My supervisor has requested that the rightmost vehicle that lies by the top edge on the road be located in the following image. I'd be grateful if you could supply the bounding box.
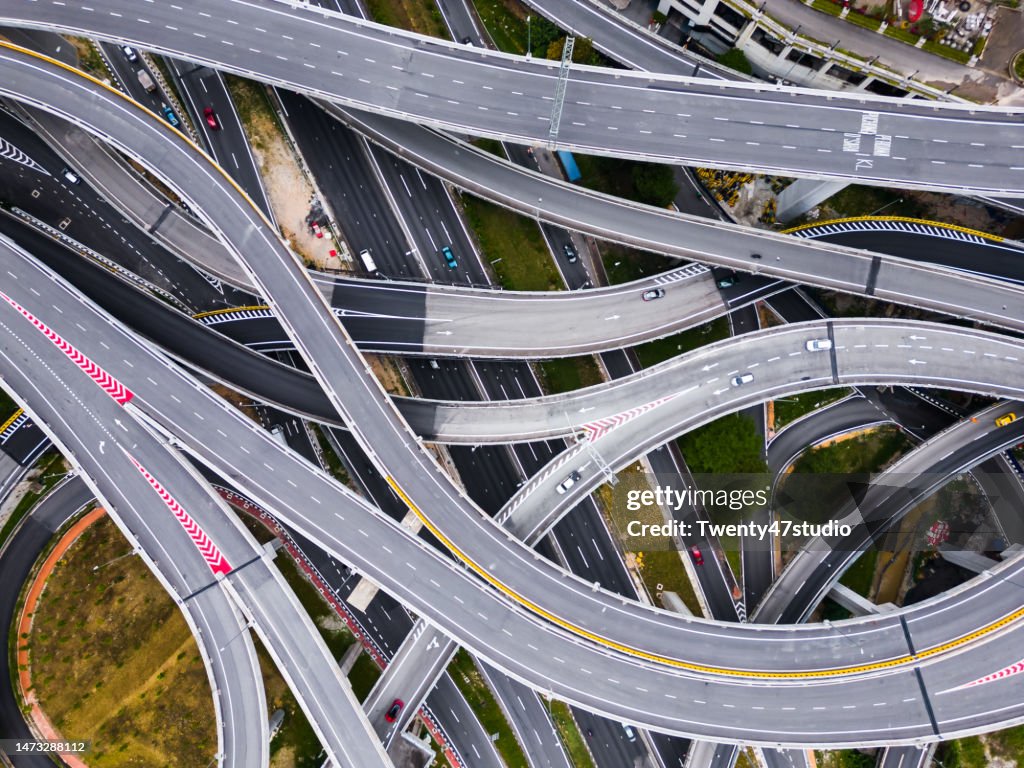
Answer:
[460,28,474,47]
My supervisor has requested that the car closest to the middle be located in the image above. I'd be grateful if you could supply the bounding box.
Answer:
[426,356,441,375]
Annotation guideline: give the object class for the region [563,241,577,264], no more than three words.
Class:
car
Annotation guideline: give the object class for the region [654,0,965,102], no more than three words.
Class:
building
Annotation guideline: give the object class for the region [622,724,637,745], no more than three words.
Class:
car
